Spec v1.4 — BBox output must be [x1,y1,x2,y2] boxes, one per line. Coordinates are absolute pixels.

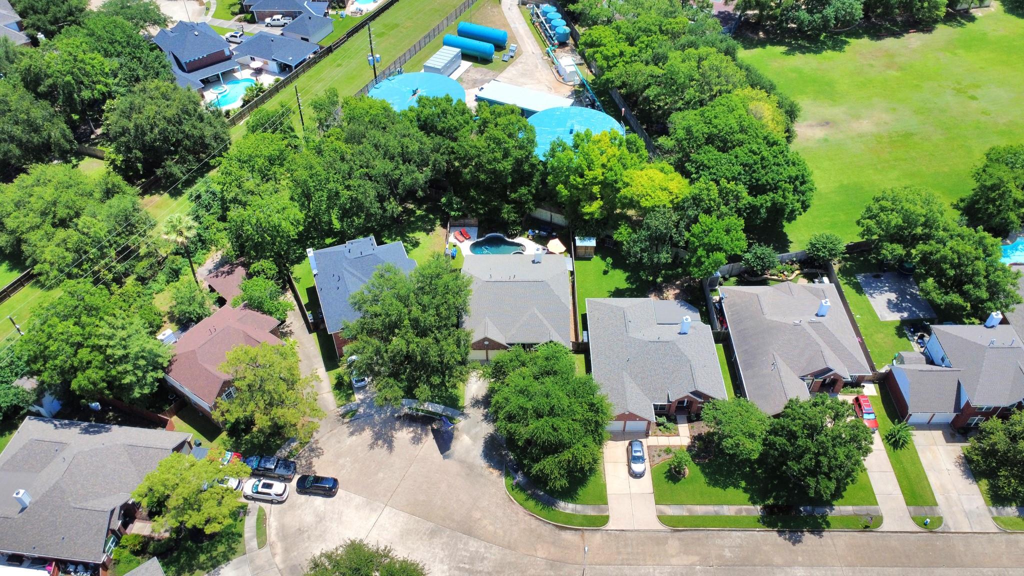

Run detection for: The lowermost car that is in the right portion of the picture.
[626,438,649,476]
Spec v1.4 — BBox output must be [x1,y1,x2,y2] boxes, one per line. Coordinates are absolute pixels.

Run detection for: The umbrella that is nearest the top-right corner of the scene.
[546,239,566,255]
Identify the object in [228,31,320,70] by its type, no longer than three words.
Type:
house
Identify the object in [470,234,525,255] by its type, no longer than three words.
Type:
swimming pool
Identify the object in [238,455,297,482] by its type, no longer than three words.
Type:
truck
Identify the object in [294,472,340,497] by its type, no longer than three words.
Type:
car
